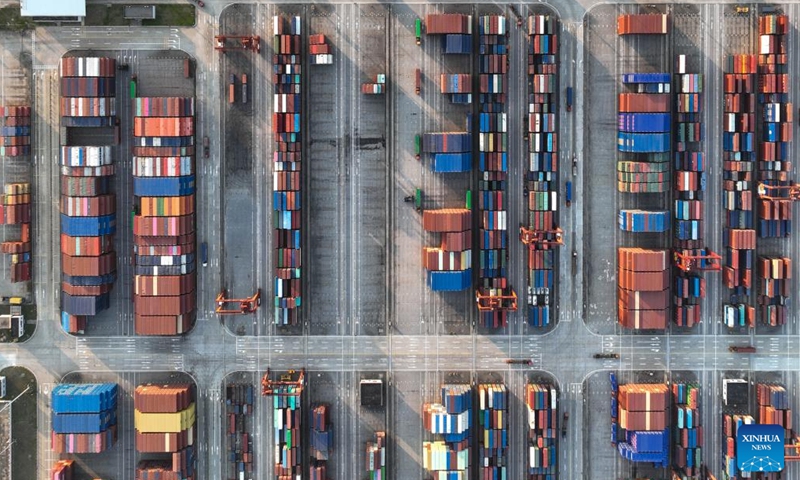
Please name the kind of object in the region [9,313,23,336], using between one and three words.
building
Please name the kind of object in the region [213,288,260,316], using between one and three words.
container crane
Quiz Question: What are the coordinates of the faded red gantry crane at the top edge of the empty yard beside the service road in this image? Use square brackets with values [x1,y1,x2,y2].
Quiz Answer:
[213,35,260,56]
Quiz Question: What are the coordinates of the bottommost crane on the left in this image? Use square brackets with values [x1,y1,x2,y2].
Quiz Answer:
[261,364,306,397]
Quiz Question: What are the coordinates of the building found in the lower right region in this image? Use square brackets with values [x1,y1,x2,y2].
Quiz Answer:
[719,377,745,405]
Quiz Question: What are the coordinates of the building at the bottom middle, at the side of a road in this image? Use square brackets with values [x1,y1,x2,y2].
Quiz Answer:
[361,378,383,408]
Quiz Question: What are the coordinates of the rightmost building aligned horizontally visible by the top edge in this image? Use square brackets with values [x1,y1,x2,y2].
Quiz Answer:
[123,4,155,19]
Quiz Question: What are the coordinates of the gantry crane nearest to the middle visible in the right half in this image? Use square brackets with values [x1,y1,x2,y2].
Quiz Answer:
[474,284,518,311]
